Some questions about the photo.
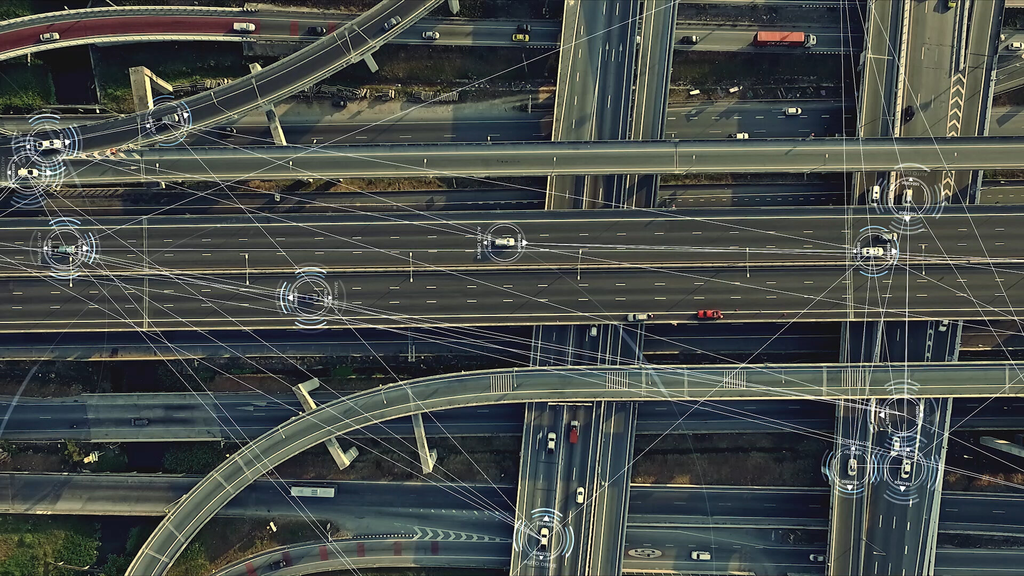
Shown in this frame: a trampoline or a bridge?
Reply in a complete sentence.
Looking from above, you can make out a bridge.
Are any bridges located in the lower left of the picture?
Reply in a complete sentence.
Yes, a bridge shows up in the lower left of the picture.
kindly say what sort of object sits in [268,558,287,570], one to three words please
vehicle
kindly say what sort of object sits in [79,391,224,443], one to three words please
bridge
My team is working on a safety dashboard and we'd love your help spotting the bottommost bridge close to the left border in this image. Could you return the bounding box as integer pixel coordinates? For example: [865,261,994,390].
[0,471,251,520]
